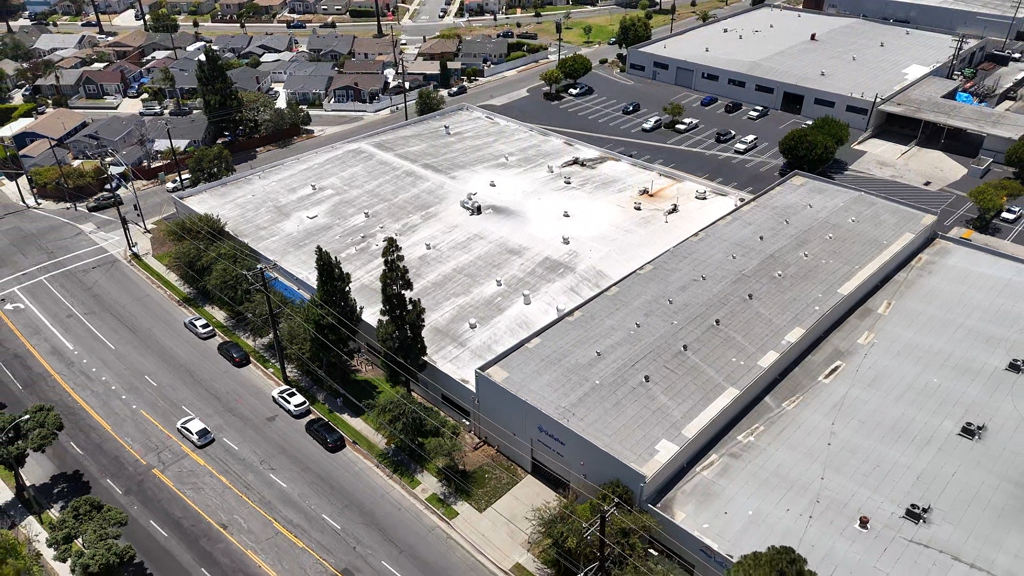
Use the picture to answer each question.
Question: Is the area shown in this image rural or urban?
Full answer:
The area is urban.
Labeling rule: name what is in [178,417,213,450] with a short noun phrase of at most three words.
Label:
car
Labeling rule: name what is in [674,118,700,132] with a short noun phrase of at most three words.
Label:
vehicle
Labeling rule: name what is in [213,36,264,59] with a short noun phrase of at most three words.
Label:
house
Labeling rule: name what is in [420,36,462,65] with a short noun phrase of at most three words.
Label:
house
